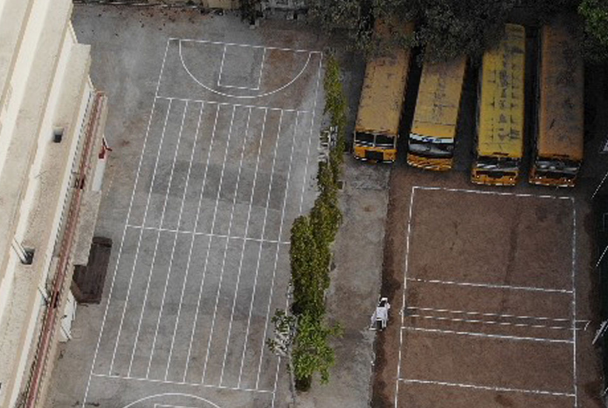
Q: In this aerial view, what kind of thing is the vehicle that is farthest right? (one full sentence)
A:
Looking closely, the vehicle that is farthest right is a bus.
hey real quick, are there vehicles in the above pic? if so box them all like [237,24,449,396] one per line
[527,27,585,196]
[471,26,526,193]
[350,1,418,166]
[404,5,463,174]
[373,293,392,332]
